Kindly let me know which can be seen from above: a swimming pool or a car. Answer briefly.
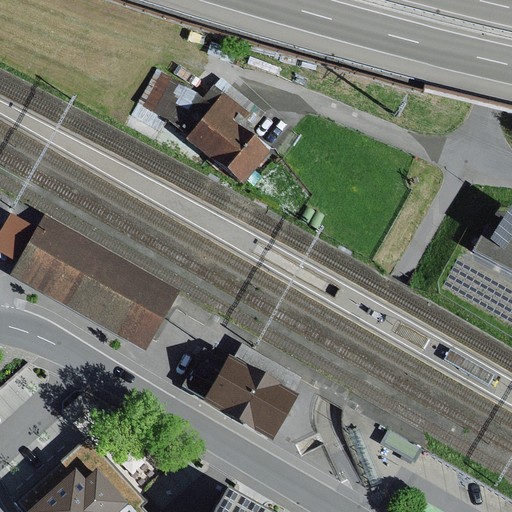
car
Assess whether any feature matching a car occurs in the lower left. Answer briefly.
Yes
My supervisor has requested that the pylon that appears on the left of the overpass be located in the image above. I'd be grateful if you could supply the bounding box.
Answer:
[392,100,411,118]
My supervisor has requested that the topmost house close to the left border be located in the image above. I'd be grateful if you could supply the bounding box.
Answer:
[0,208,30,268]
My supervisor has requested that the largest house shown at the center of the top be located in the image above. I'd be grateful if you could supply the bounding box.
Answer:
[186,93,272,184]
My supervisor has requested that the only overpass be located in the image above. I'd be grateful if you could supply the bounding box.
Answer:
[422,86,512,115]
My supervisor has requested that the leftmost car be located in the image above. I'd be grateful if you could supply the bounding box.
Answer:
[17,444,38,464]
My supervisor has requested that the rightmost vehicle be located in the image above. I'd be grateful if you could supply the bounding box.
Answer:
[469,482,482,505]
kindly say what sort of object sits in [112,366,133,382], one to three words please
car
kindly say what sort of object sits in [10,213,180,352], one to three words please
building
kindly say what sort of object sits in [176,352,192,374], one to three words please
vehicle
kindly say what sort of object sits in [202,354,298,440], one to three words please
house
